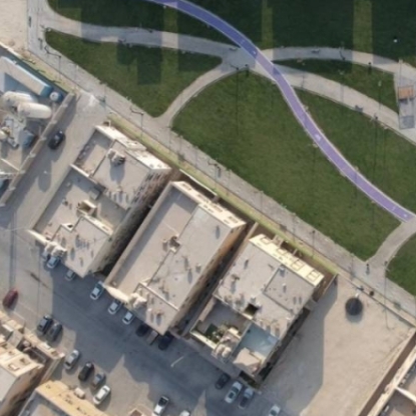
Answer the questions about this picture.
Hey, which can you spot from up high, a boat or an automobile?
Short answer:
automobile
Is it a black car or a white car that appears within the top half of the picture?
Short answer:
black car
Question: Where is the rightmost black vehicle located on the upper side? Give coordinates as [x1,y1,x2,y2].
[46,128,65,149]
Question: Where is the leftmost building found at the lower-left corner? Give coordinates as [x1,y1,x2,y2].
[0,323,52,416]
